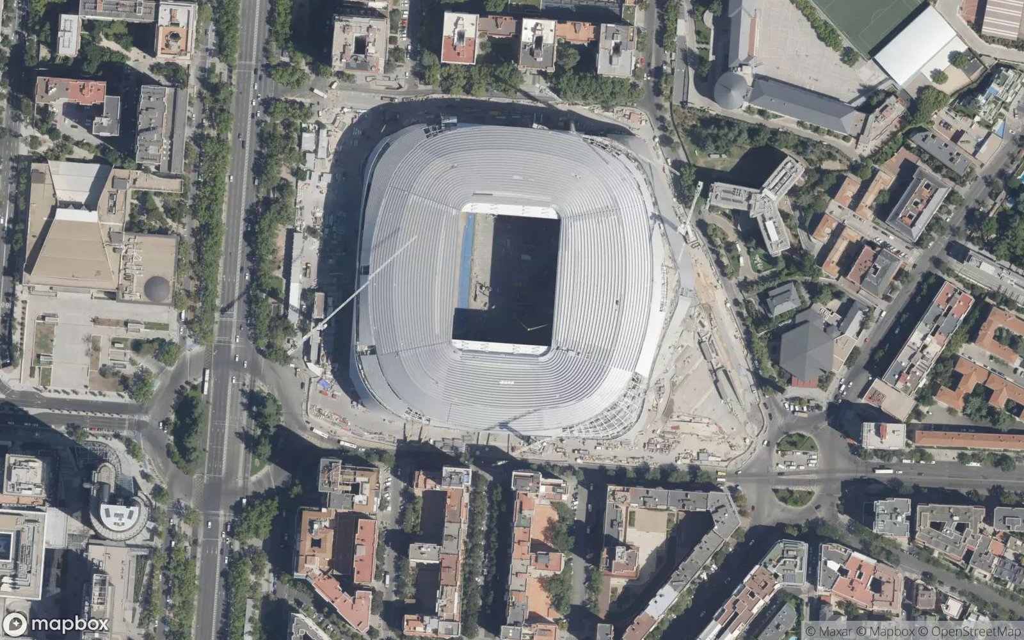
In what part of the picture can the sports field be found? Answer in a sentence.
You can find the sports field in the top right area of the picture.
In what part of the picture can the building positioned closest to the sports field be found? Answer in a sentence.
The building positioned closest to the sports field is located in the top right region of the scene.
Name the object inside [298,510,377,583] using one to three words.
building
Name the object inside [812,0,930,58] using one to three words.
sports field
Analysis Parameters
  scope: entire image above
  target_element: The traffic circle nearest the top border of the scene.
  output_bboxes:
[771,432,819,508]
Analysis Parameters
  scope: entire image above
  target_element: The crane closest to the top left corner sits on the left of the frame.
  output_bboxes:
[287,235,417,354]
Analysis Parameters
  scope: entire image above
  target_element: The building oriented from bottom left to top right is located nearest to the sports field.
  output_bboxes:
[872,6,956,86]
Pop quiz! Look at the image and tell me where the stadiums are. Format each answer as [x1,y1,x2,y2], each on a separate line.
[351,117,665,442]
